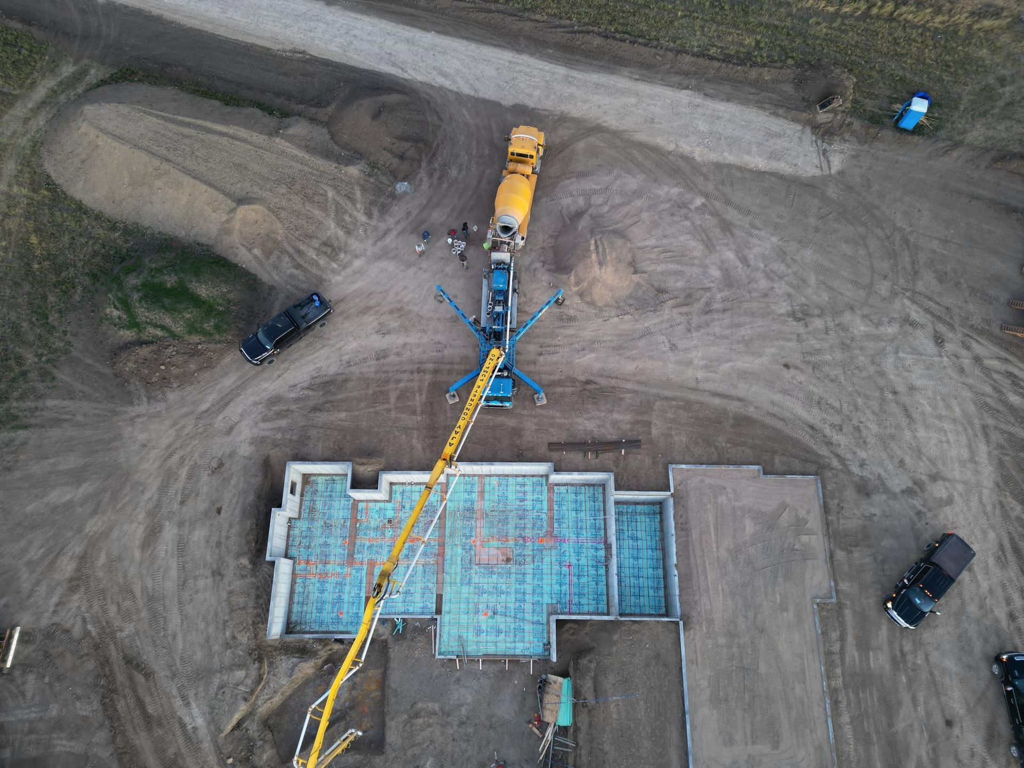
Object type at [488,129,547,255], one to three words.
truck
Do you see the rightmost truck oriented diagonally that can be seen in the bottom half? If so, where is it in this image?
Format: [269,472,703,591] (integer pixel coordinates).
[877,531,974,632]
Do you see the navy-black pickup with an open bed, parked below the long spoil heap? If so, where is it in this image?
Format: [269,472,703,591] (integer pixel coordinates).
[243,291,340,369]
